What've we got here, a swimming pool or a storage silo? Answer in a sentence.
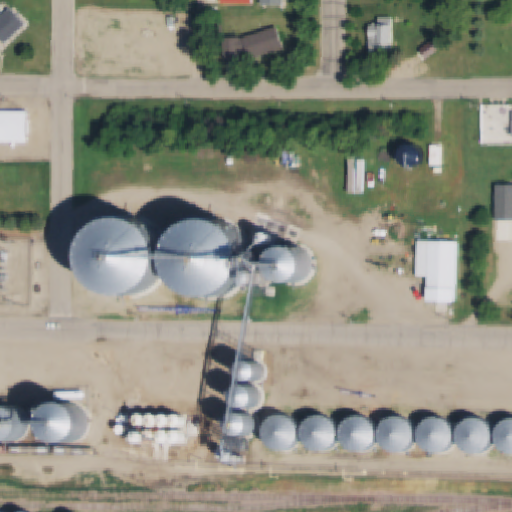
Of the two, only a storage silo appears.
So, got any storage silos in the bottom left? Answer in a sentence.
Yes, there is a storage silo in the bottom left.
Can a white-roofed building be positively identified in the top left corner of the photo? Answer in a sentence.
Yes, a white-roofed building shows up in the top left corner of the photo.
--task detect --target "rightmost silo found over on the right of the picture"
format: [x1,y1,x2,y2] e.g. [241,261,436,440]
[492,414,512,454]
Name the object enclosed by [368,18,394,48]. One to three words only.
house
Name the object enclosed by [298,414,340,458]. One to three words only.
silo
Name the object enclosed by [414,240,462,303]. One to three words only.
building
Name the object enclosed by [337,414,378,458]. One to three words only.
silo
